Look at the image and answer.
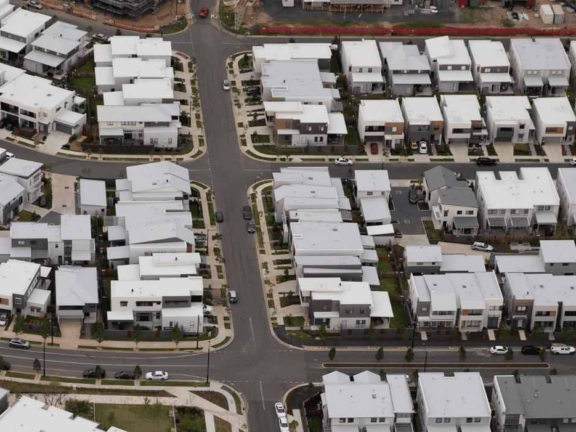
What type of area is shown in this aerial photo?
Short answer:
residential area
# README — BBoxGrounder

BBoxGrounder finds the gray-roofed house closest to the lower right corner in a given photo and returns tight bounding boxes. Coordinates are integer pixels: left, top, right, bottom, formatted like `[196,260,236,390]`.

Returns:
[489,374,576,432]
